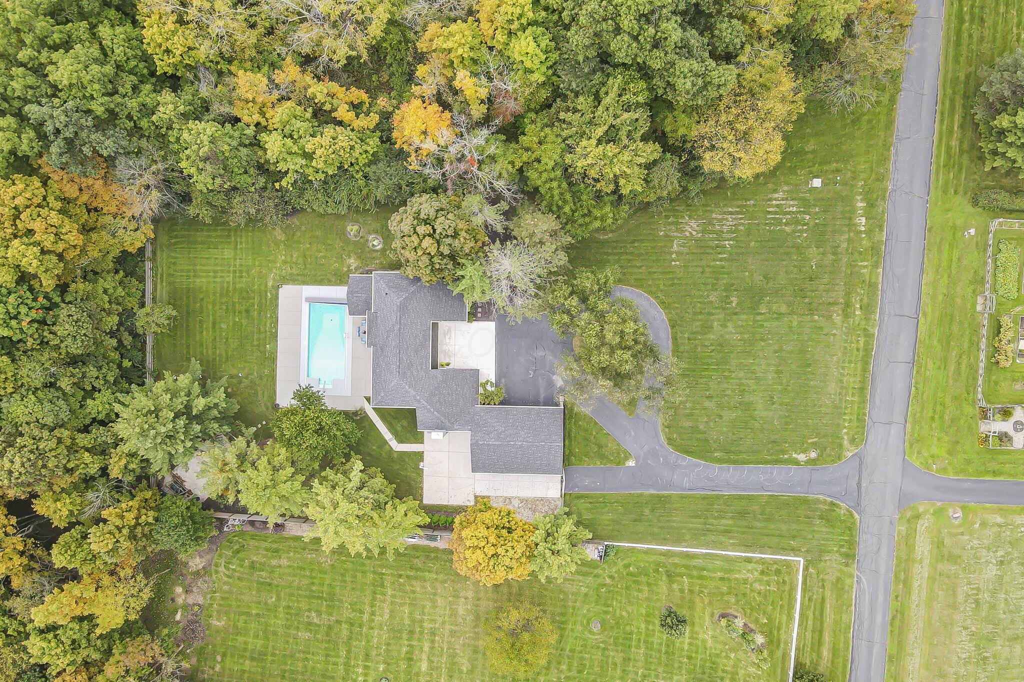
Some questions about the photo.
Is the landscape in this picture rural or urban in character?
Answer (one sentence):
The land in this view is best described as rural.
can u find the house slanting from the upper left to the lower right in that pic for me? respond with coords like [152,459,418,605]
[347,271,564,474]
